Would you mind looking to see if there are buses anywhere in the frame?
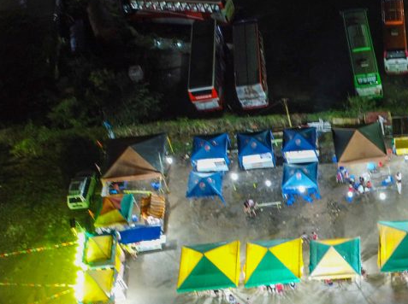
Yes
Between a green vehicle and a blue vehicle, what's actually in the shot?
green vehicle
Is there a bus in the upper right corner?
Yes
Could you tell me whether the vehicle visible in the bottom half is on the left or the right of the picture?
left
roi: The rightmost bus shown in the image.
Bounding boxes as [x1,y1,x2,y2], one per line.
[381,0,408,74]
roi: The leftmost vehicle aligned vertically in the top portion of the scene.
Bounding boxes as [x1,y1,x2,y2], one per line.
[187,19,223,112]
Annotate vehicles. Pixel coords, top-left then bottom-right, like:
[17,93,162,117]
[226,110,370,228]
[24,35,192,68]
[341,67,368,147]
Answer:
[234,20,267,110]
[381,0,408,74]
[343,10,382,98]
[123,0,236,26]
[63,175,96,219]
[187,19,223,112]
